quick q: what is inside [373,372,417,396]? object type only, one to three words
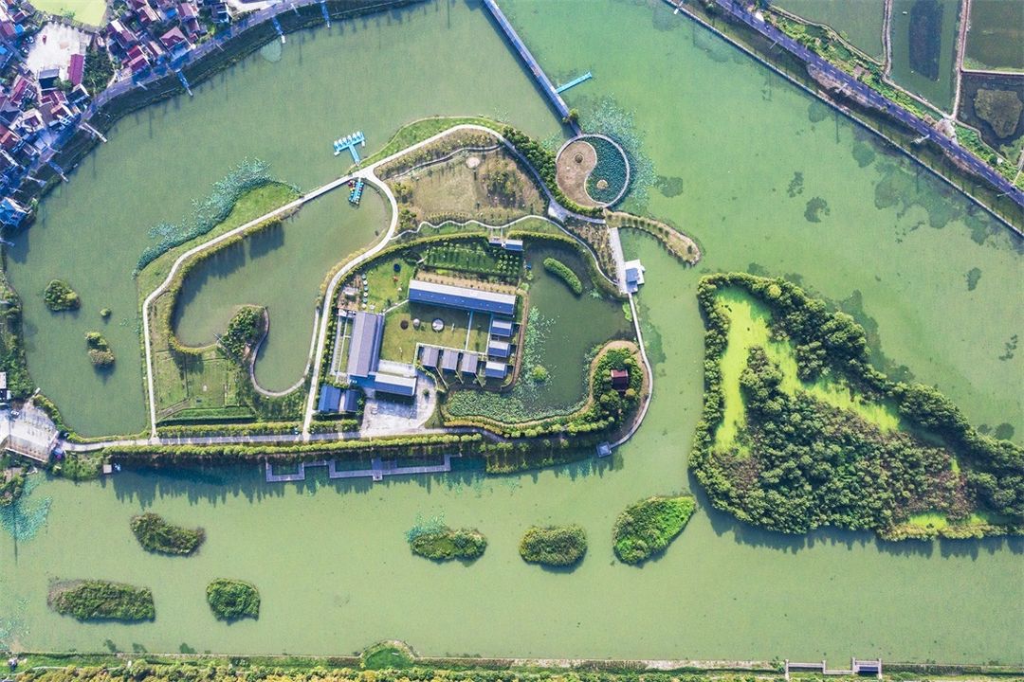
building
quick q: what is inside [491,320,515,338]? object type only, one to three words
house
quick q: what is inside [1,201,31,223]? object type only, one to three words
house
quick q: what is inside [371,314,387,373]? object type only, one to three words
building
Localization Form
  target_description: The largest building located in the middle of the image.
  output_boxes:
[409,281,516,317]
